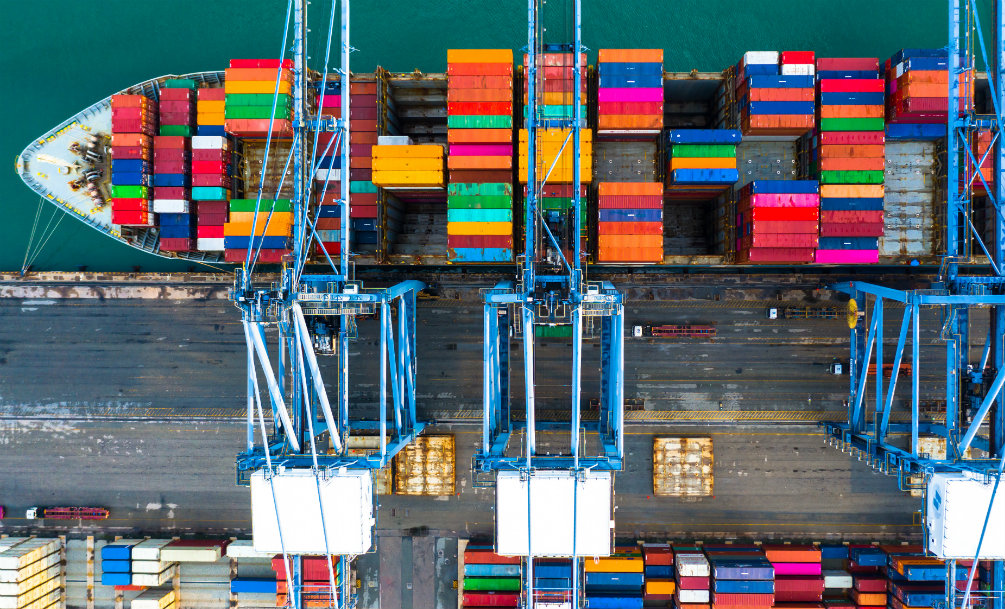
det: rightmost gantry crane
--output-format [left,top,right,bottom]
[806,0,1005,609]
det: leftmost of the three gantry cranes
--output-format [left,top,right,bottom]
[226,0,450,609]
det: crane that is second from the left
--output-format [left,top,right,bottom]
[472,0,632,609]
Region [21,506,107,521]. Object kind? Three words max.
vehicle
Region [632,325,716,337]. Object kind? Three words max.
vehicle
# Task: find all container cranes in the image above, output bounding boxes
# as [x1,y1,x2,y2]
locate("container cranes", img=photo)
[806,0,1005,609]
[472,0,632,609]
[226,0,450,609]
